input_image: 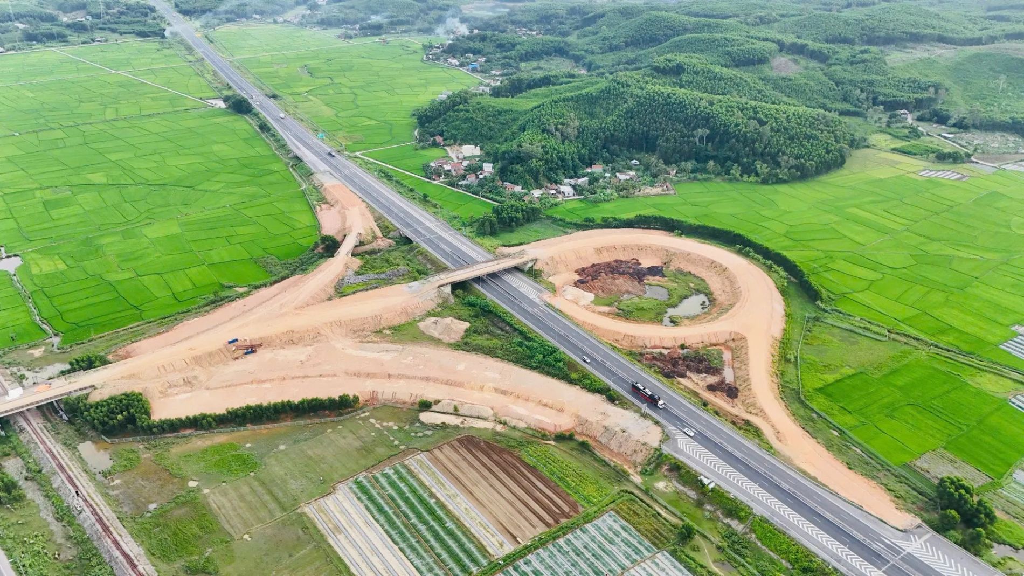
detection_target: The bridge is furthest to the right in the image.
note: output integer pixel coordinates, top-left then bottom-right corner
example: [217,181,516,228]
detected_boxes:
[425,248,543,288]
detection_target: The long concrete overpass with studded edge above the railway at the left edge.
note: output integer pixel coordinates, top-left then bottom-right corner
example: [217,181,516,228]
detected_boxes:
[0,369,98,424]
